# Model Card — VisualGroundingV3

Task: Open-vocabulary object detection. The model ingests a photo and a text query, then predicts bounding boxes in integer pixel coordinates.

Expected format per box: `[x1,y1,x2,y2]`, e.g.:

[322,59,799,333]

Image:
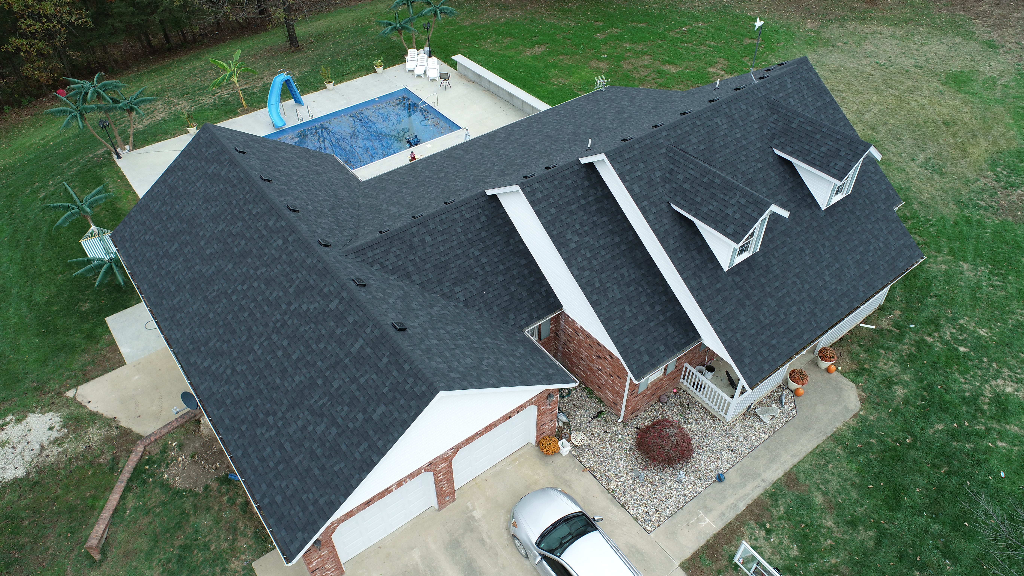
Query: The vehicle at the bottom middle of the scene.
[504,486,632,576]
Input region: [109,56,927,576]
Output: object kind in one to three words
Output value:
house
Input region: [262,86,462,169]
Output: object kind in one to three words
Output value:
swimming pool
